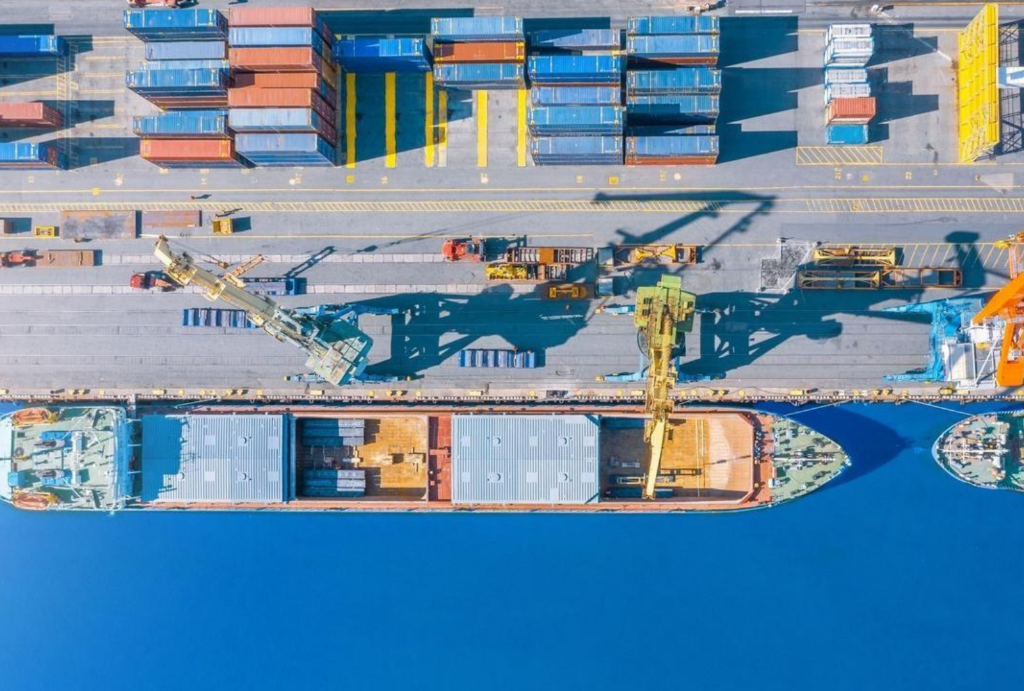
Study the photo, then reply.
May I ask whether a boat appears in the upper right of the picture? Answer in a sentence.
No, I can find no boat in the upper right of the picture.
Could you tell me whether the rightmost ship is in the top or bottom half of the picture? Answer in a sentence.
The bottom half of the photo is where the rightmost ship is.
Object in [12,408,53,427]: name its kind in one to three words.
boat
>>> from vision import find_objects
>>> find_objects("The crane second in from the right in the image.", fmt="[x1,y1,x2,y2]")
[600,273,725,502]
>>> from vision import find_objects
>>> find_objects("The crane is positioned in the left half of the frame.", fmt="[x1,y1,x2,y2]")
[143,227,414,390]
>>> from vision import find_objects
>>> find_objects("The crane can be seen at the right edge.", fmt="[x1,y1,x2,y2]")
[884,230,1024,387]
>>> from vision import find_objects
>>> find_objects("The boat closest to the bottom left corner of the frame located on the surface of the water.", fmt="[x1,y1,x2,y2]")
[13,494,54,510]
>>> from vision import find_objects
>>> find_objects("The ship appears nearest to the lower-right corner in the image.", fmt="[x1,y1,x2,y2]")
[929,410,1024,491]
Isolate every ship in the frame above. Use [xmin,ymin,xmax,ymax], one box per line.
[0,406,851,512]
[929,410,1024,491]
